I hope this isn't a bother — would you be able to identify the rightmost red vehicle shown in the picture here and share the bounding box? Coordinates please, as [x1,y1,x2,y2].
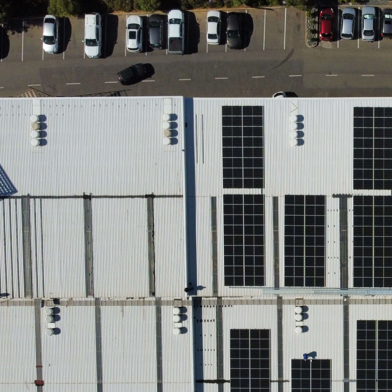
[317,6,335,44]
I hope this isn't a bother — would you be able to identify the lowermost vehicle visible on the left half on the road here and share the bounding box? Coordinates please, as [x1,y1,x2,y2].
[115,62,157,87]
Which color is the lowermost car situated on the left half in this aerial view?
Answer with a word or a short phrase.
black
